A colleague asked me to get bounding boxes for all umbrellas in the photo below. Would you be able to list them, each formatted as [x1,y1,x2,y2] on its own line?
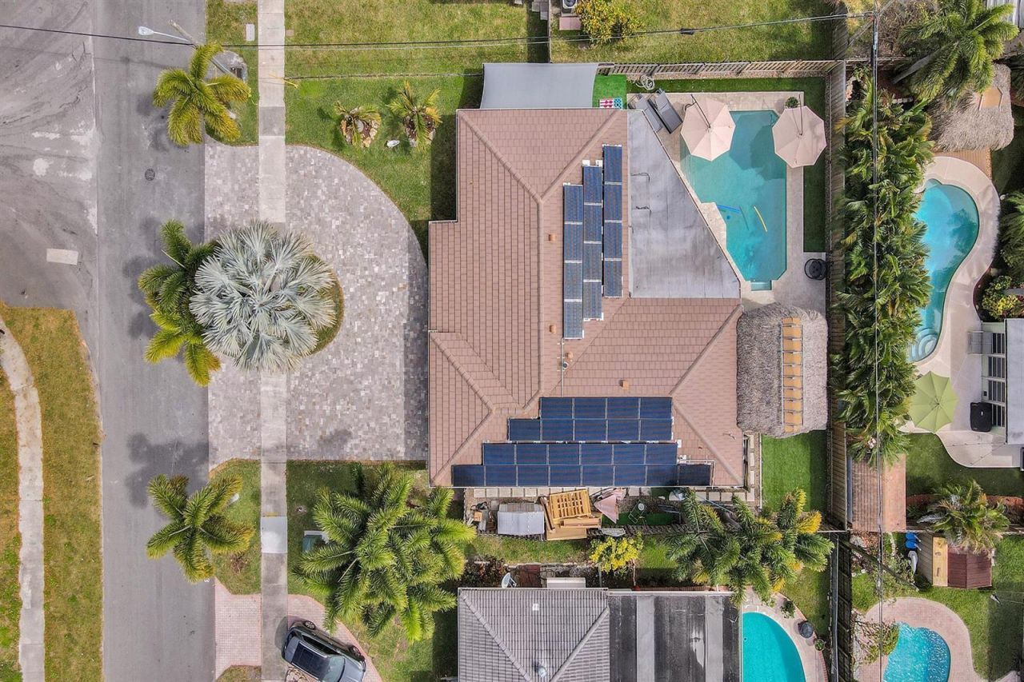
[590,489,626,523]
[767,90,824,166]
[674,94,734,157]
[902,371,962,434]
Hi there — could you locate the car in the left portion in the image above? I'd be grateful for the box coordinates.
[277,618,369,682]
